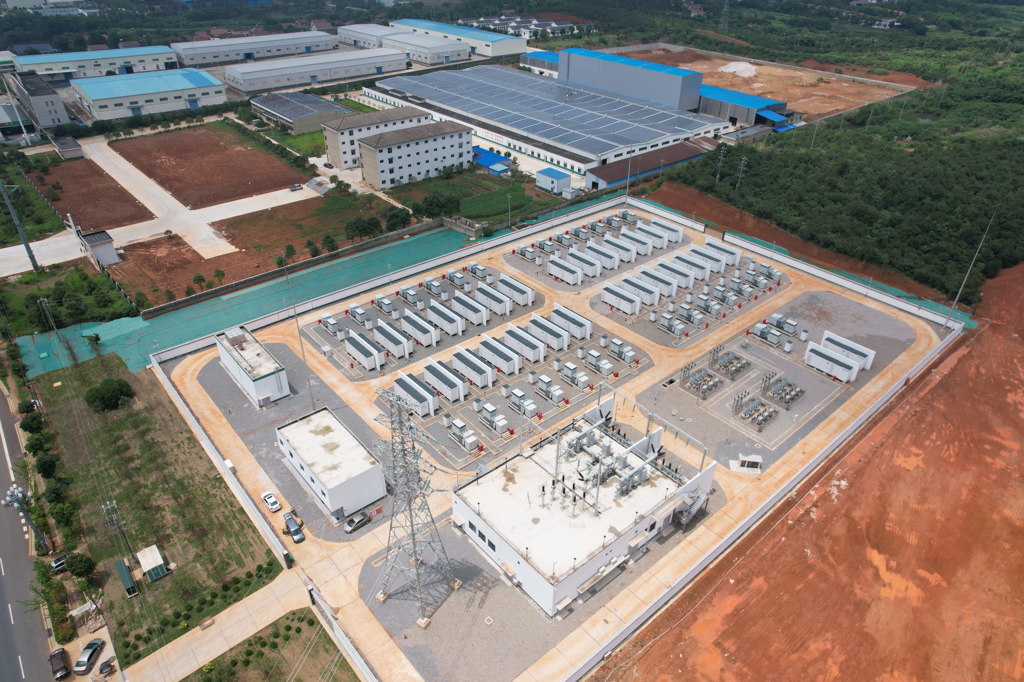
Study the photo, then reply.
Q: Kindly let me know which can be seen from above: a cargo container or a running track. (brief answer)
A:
cargo container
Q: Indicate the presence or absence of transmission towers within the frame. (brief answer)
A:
Yes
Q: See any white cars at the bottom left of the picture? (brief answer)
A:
Yes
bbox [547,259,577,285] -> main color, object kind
white shipping container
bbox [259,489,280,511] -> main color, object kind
white car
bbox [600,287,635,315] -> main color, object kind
white shipping container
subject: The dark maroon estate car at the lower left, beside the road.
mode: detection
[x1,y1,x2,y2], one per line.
[45,645,71,680]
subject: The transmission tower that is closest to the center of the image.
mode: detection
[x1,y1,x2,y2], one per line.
[368,390,462,618]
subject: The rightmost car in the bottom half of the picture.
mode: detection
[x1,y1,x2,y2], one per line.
[341,514,372,534]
